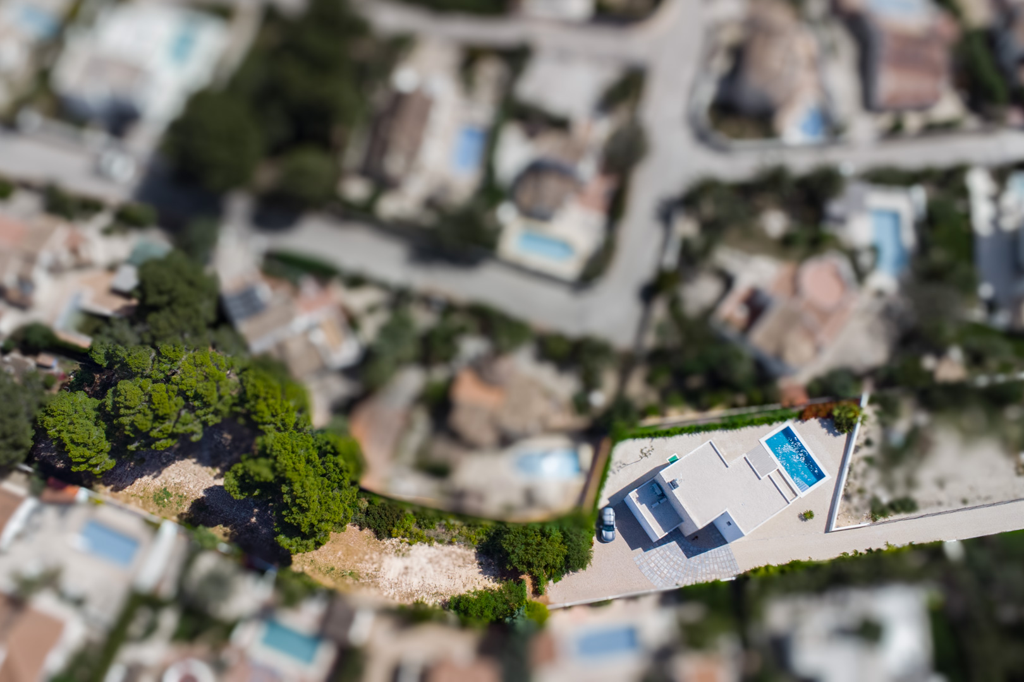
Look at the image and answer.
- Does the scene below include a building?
Yes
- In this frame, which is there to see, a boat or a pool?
pool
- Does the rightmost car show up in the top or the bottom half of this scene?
bottom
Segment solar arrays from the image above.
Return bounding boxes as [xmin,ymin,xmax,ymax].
[228,279,271,320]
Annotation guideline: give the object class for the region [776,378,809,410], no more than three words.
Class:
shed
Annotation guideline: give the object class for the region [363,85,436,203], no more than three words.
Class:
house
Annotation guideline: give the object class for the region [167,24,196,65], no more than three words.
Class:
swimming pool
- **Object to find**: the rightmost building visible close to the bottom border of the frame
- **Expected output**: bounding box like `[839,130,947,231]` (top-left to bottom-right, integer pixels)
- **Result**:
[765,589,934,682]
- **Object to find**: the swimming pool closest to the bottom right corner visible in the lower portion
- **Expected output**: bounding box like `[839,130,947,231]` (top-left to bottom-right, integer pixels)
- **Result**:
[757,420,834,501]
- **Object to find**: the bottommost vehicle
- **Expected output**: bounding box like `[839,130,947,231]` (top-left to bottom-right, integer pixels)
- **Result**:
[598,505,618,544]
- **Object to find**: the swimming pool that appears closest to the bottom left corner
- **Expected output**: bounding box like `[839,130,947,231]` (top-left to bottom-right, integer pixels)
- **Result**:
[74,513,145,571]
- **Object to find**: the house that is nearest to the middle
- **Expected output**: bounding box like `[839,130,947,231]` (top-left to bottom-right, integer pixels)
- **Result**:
[452,357,597,450]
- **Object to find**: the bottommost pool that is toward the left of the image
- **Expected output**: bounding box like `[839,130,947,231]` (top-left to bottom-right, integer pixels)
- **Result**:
[256,612,326,672]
